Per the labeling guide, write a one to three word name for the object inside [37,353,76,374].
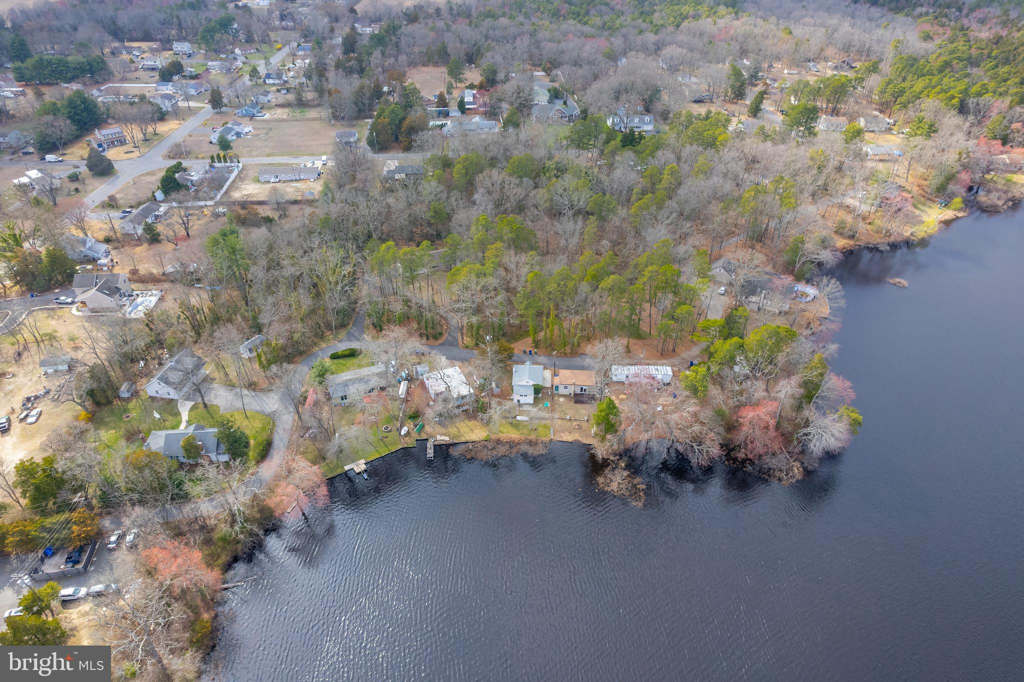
shed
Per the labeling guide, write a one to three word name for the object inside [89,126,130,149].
house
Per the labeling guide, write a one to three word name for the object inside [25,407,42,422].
car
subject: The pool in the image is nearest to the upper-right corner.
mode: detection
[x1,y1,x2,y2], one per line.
[799,285,826,302]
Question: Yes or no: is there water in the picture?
Yes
